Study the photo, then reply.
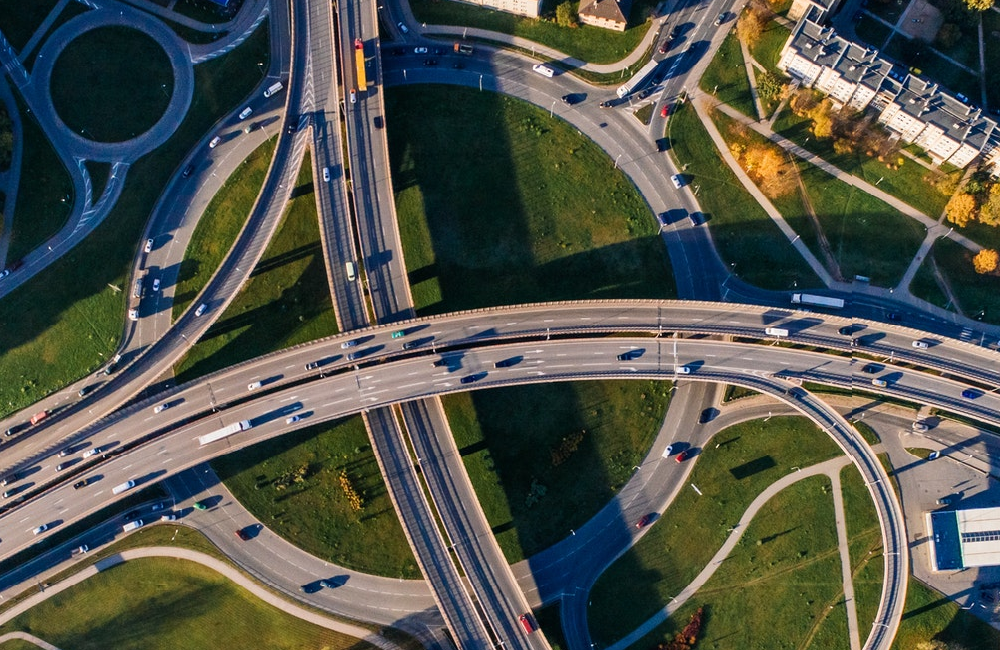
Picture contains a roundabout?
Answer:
Yes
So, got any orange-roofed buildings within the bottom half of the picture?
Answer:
No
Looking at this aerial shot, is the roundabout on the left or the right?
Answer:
left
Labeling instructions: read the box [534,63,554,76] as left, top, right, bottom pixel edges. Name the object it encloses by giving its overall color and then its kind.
white vehicle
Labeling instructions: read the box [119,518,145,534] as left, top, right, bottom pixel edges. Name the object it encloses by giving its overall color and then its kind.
white vehicle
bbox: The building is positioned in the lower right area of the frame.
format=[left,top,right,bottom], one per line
[923,508,1000,569]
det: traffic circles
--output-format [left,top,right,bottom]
[30,8,193,161]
